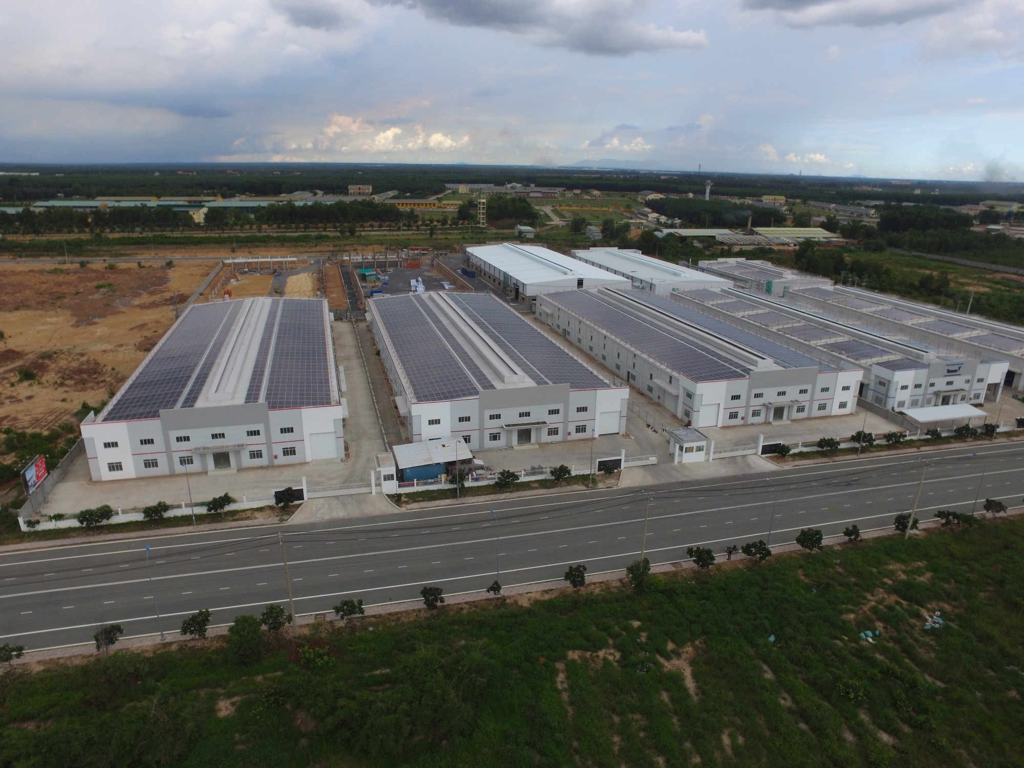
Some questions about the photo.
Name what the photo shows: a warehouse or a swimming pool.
warehouse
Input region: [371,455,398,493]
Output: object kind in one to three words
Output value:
building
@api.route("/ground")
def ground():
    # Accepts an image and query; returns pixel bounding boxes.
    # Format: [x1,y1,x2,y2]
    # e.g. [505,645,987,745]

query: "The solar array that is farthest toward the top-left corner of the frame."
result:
[104,299,326,421]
